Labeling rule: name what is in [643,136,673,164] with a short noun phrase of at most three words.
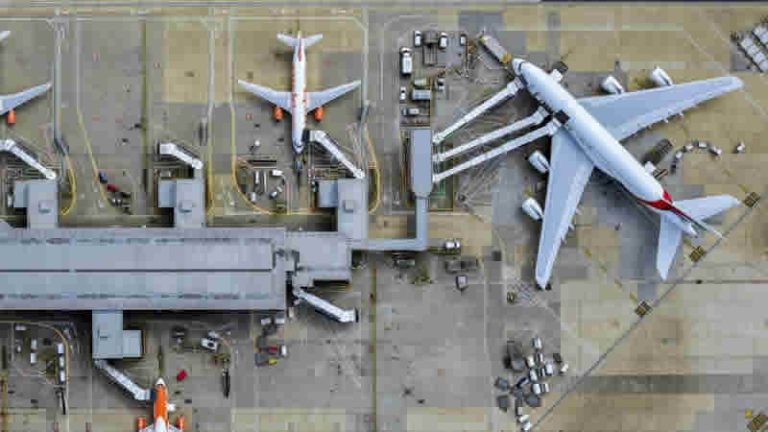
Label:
work vehicle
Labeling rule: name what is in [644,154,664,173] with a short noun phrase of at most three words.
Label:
vehicle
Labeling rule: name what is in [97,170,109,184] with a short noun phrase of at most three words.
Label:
vehicle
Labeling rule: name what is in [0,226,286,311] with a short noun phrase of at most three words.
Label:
building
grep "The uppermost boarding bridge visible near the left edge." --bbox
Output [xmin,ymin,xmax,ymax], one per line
[0,137,58,179]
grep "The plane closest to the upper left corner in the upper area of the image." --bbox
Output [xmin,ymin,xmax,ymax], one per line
[0,77,53,125]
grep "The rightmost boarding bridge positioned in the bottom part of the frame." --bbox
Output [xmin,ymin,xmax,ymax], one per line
[290,282,356,320]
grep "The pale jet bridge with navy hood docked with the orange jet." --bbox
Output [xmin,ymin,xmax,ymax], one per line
[93,359,157,402]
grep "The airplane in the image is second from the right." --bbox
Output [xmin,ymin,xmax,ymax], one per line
[236,30,362,154]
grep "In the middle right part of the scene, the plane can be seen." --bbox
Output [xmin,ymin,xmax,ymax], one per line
[511,62,745,297]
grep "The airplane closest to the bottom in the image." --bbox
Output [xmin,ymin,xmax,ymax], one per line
[137,377,187,432]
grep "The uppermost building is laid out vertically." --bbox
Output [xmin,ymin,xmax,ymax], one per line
[405,125,434,198]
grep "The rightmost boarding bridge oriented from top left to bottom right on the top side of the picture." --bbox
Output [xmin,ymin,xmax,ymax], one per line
[304,127,365,178]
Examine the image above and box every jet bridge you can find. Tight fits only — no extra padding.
[0,137,58,179]
[157,142,206,178]
[290,282,356,320]
[93,359,157,402]
[434,77,524,145]
[434,111,567,184]
[304,127,365,178]
[434,107,549,164]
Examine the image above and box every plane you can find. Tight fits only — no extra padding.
[511,62,745,297]
[0,77,53,125]
[236,30,362,154]
[137,377,187,432]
